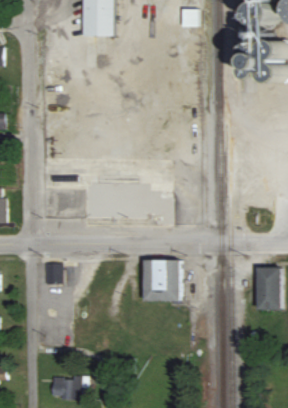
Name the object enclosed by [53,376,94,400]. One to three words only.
house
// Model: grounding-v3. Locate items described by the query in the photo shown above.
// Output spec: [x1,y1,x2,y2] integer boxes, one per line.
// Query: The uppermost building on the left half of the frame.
[83,0,118,36]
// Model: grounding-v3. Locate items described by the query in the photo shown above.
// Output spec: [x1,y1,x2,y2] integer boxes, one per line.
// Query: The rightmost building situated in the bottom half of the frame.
[256,267,286,310]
